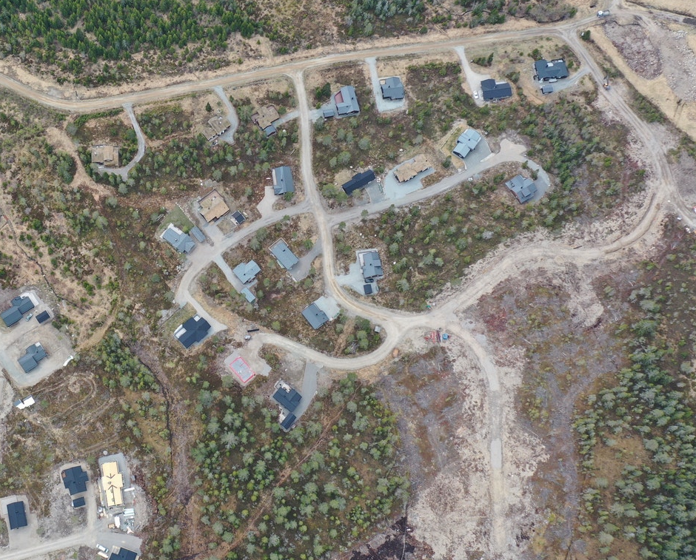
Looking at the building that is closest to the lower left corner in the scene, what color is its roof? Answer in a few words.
blue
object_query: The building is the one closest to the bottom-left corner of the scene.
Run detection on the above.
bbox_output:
[0,495,28,530]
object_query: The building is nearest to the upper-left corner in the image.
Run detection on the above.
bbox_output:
[92,145,119,170]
